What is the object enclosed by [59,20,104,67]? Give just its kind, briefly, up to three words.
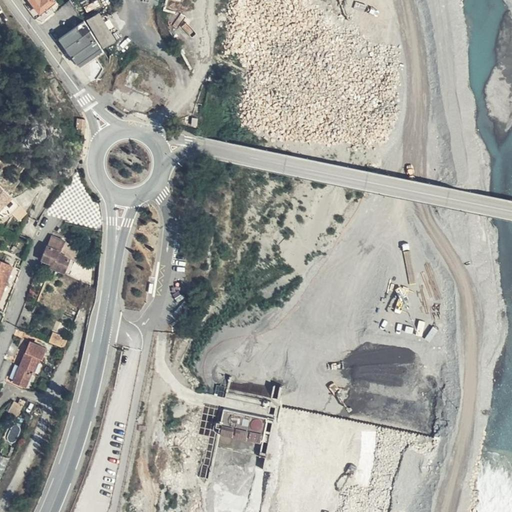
building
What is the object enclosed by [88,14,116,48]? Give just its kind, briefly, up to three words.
house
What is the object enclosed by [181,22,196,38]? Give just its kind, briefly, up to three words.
vehicle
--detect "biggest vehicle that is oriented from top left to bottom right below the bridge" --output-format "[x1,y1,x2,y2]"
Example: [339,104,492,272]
[326,381,348,407]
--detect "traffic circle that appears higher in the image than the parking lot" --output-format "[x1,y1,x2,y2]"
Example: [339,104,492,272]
[88,122,174,222]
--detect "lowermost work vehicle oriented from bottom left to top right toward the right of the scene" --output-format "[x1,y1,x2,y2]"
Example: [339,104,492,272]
[336,461,358,486]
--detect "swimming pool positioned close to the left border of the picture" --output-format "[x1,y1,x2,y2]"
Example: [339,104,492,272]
[4,422,22,443]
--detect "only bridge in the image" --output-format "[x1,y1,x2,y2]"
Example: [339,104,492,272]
[188,137,512,221]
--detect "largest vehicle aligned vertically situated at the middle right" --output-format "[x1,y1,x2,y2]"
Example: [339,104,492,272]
[403,246,416,287]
